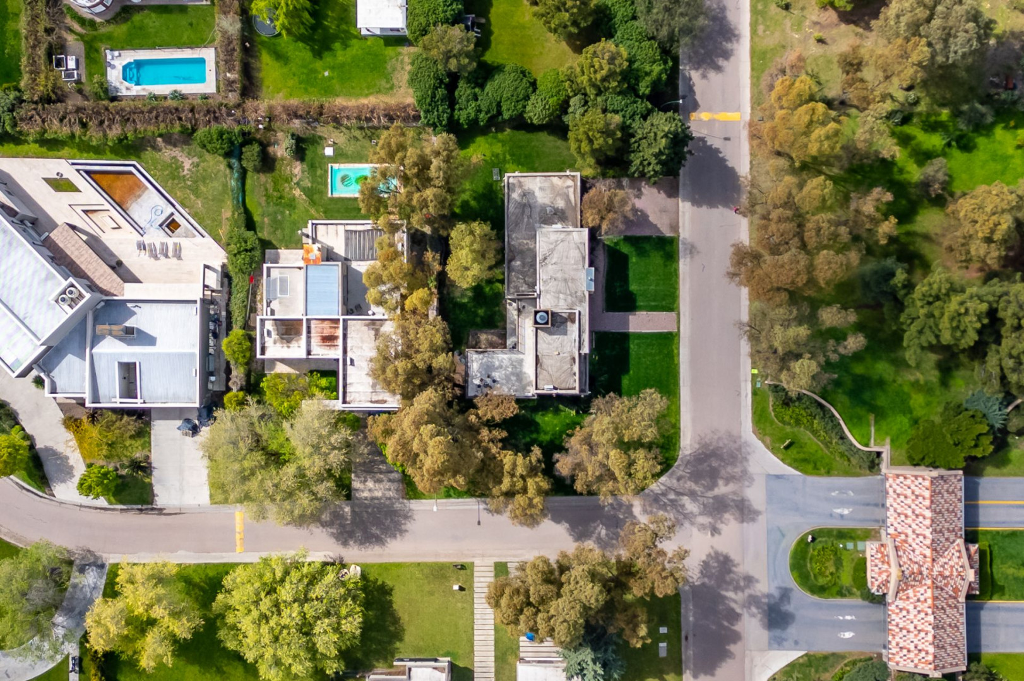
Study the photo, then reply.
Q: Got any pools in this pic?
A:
Yes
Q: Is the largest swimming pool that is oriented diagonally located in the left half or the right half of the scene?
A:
left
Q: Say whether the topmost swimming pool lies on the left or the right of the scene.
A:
left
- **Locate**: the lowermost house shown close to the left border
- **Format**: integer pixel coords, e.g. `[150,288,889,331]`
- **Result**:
[0,176,211,407]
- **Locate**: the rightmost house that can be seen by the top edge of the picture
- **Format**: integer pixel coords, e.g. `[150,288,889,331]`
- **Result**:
[357,0,409,42]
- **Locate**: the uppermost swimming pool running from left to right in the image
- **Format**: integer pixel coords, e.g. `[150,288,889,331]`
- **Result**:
[106,48,216,96]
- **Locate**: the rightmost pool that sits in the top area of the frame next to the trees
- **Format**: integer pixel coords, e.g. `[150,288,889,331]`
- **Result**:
[329,164,394,197]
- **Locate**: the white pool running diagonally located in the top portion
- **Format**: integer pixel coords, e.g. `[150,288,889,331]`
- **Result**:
[67,159,212,240]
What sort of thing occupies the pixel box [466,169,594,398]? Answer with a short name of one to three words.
house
